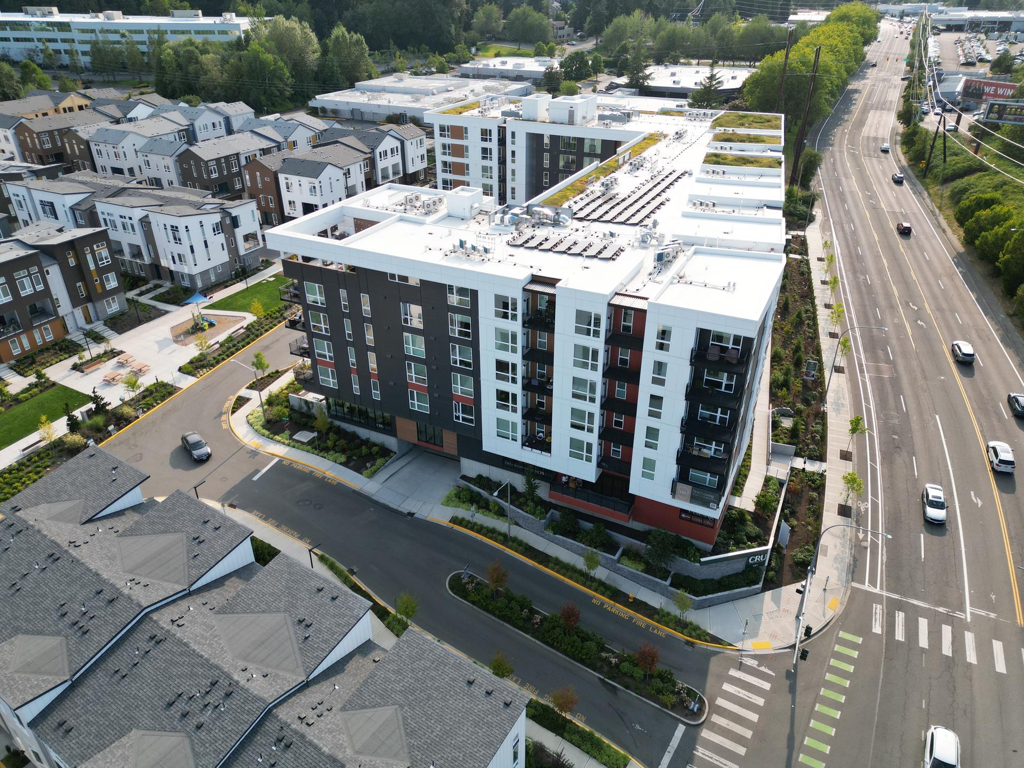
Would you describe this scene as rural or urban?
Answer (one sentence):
It looks urban.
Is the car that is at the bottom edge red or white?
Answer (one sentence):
The car that is at the bottom edge is white.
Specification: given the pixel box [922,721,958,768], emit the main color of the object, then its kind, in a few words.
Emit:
white car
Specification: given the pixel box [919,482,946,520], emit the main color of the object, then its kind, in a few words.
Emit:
white car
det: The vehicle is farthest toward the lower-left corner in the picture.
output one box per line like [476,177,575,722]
[179,432,210,462]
